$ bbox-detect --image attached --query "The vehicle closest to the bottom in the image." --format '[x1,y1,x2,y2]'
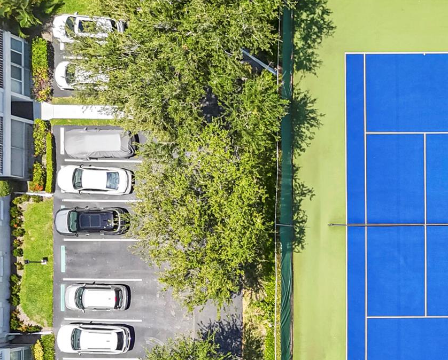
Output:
[58,323,130,357]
